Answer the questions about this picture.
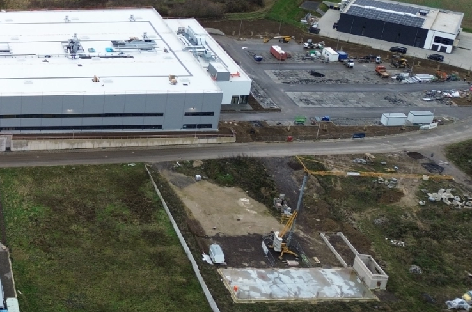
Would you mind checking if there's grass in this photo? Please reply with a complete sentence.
Yes, there is grass in the image.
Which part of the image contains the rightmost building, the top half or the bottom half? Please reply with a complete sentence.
It is in the top half that the rightmost building appears.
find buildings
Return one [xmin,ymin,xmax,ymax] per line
[334,0,467,54]
[0,5,252,133]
